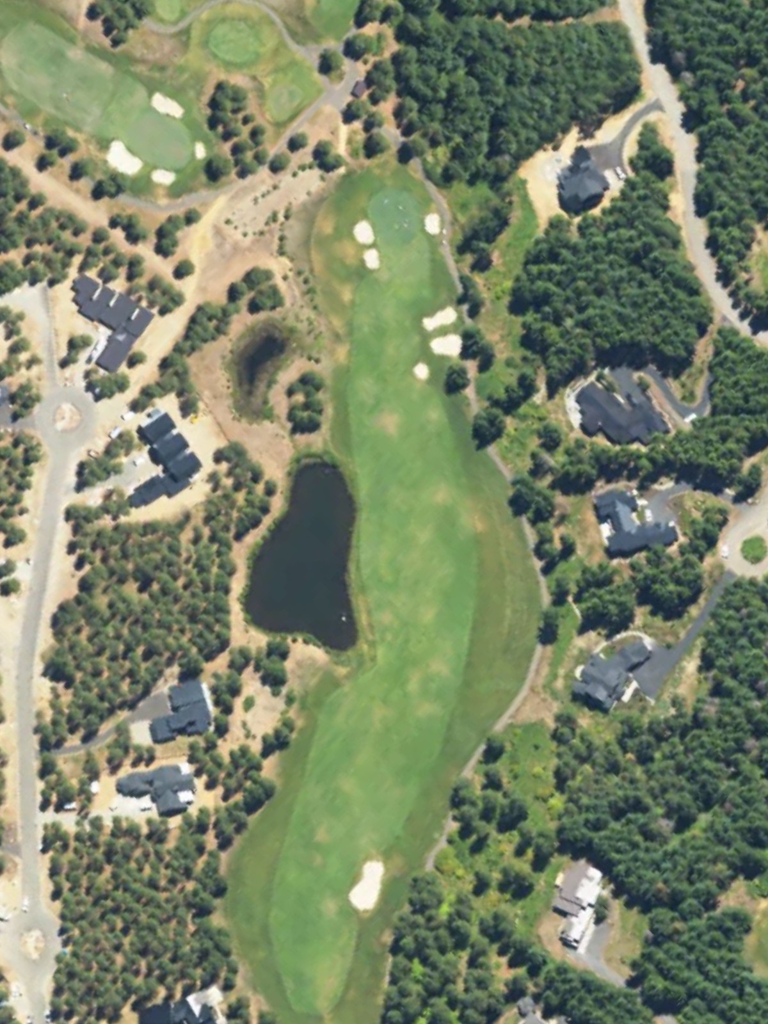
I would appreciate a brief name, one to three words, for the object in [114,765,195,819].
house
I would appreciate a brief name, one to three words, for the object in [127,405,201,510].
house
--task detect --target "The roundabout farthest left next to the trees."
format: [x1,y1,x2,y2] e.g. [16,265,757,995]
[1,908,63,981]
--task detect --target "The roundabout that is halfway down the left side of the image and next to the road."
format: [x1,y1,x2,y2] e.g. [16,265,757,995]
[36,386,100,447]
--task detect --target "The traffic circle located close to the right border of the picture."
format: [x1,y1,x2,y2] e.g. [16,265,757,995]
[721,518,768,579]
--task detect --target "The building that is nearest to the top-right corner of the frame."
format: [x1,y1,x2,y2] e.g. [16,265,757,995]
[555,143,612,216]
